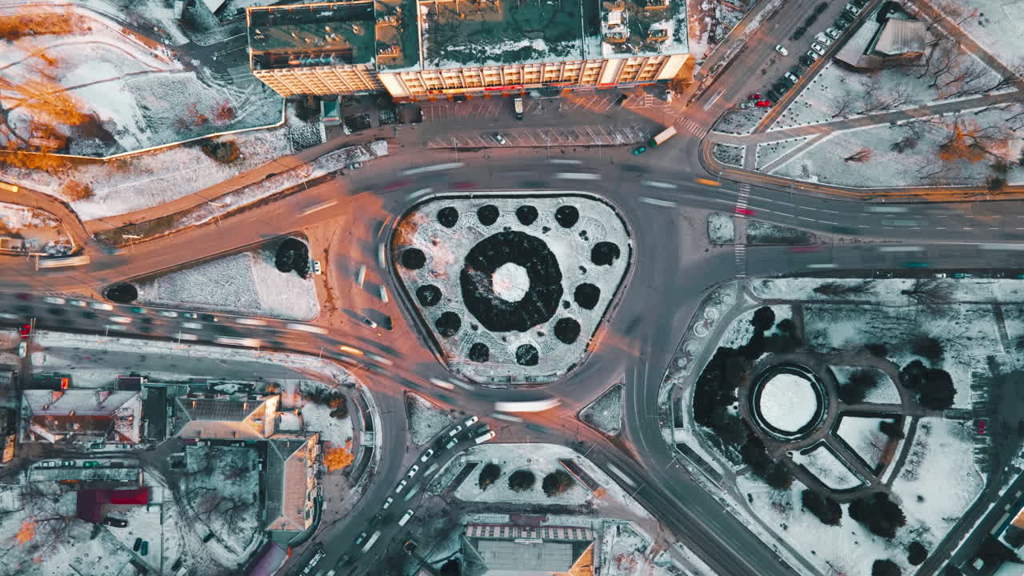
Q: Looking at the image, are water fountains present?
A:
Yes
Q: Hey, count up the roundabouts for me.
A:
1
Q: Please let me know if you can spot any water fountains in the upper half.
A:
No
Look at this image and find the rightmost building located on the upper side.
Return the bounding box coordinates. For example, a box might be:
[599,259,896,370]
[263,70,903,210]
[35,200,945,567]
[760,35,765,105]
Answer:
[833,19,926,69]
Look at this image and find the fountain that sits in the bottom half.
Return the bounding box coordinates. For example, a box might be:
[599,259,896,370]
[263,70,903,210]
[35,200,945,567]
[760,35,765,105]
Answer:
[750,364,828,441]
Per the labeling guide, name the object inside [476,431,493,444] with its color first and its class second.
white vehicle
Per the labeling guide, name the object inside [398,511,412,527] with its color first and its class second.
white vehicle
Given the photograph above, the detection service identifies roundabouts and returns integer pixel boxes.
[387,191,637,389]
